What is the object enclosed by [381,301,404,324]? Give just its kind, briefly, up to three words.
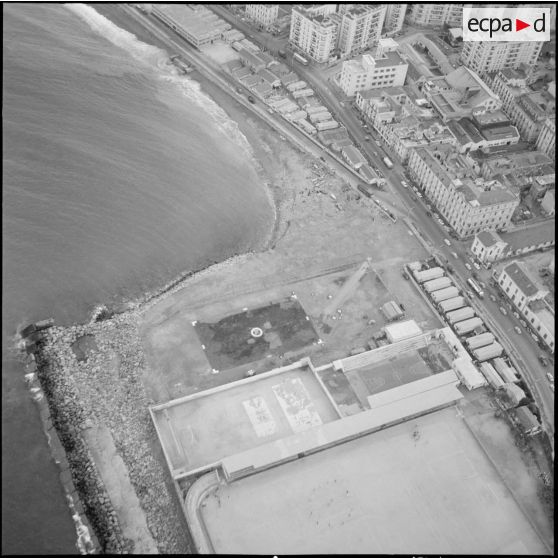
shed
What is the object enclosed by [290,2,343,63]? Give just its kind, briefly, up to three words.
building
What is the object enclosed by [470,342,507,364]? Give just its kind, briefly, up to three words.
shed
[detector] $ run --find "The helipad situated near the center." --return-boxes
[195,298,319,371]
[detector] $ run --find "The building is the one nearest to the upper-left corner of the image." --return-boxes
[140,0,232,48]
